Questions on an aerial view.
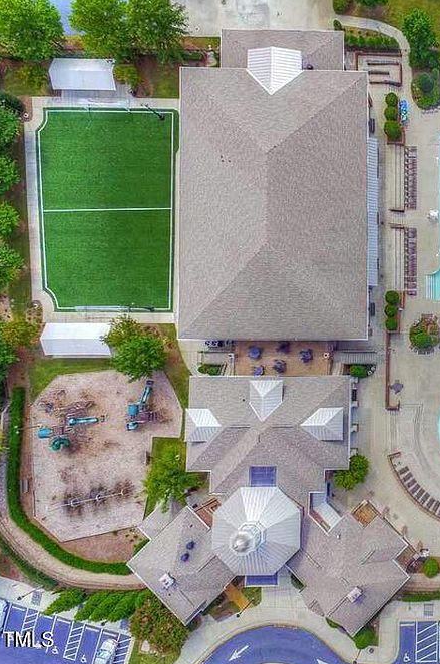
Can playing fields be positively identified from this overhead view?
Yes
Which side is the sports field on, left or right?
left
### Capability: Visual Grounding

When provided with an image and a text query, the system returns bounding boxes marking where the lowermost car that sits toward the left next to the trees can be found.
[96,632,119,664]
